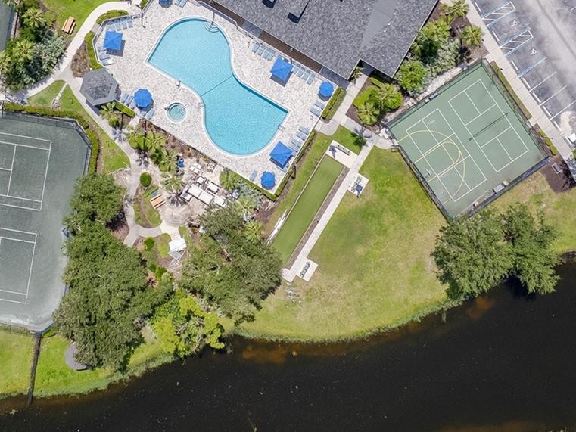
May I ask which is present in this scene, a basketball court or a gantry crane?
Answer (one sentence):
The image shows a basketball court.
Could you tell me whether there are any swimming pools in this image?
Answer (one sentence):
Yes, a swimming pool can be made out from above.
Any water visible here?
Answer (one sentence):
Yes, there is water in the image.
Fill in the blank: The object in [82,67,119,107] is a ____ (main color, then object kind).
gray gazebo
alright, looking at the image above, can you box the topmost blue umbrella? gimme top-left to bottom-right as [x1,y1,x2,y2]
[103,32,122,51]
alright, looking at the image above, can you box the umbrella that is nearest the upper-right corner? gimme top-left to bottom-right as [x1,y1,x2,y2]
[319,82,334,97]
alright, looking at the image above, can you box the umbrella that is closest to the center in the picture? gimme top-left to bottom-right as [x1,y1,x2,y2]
[260,173,276,188]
